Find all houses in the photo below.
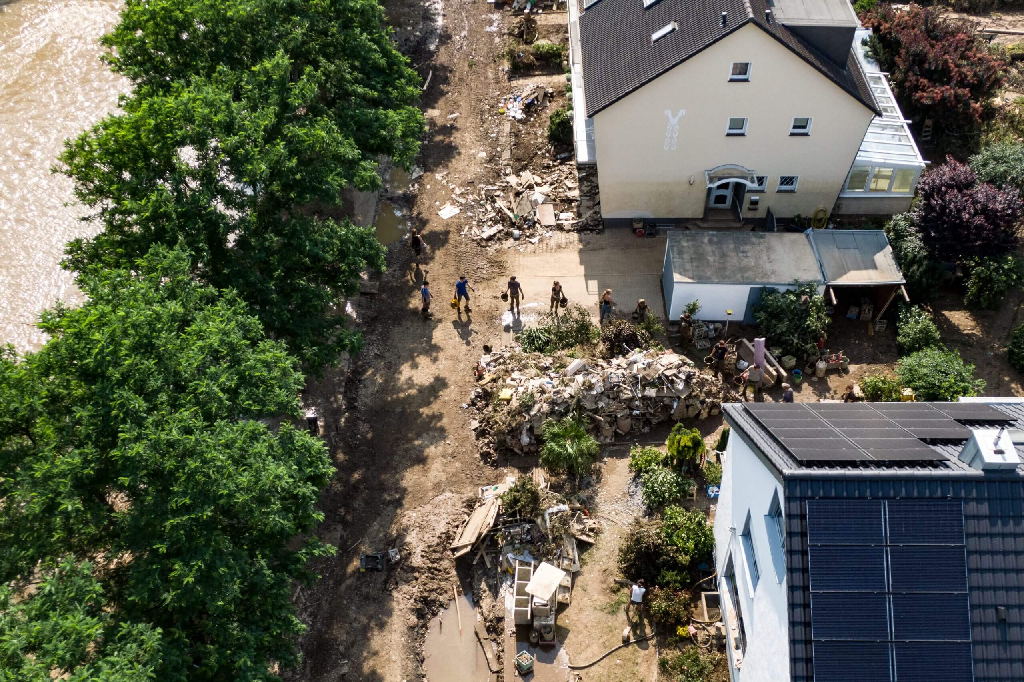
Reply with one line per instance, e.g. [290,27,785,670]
[576,0,889,229]
[702,392,1024,682]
